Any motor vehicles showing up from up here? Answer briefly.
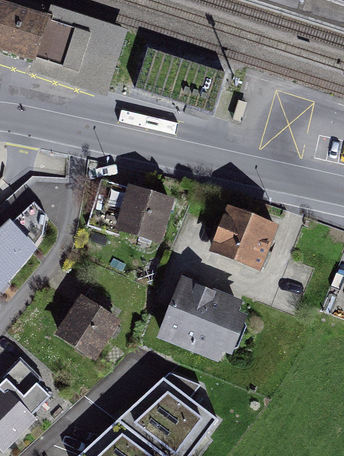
Yes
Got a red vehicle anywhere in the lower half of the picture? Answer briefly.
No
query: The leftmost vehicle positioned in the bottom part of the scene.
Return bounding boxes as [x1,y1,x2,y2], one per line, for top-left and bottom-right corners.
[0,334,18,354]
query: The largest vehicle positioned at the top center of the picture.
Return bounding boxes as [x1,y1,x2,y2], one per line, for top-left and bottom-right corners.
[118,108,180,138]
